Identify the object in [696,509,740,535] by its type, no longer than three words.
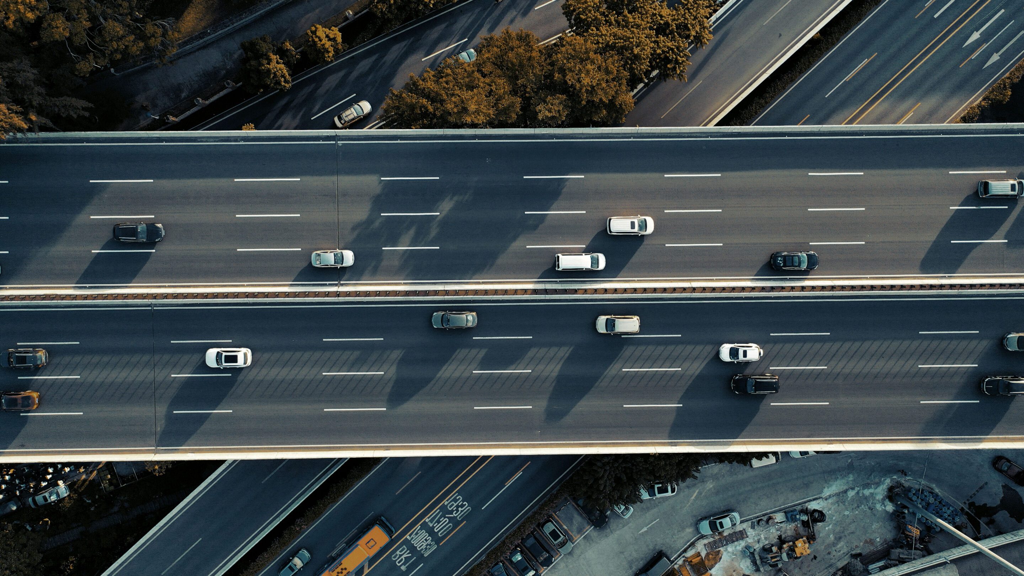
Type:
car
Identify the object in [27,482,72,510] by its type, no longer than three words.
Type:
car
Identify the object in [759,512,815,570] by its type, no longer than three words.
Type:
work vehicle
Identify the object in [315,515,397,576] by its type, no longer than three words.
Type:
bus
